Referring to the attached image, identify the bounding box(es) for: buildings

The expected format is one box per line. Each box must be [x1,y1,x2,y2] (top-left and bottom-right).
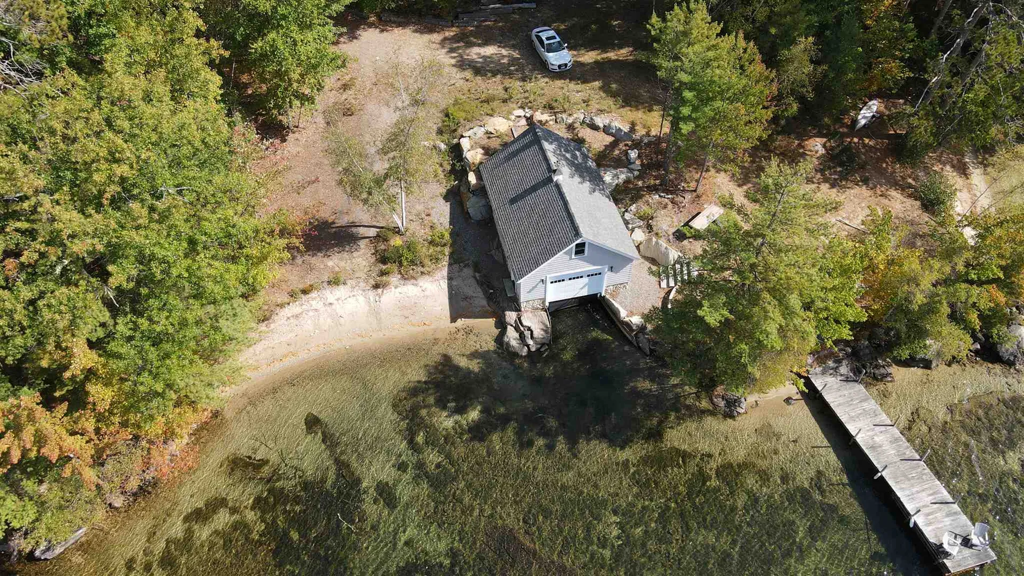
[479,125,641,310]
